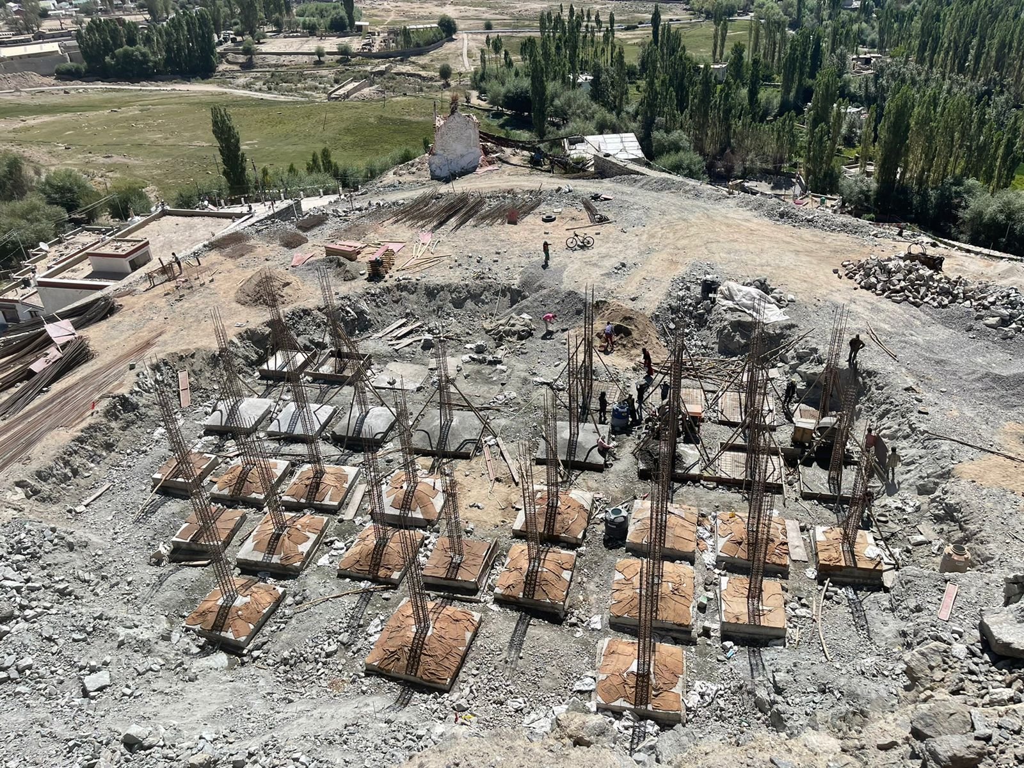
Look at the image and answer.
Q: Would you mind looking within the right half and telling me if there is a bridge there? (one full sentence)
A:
No, within the right half there is no bridge.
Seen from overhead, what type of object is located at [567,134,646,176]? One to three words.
house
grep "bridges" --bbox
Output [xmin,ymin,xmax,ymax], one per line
[327,69,370,100]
